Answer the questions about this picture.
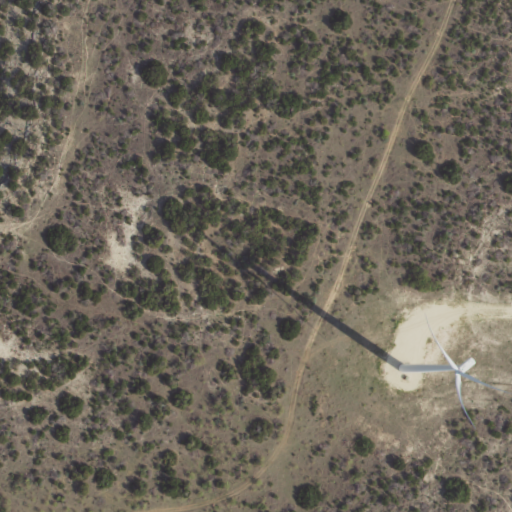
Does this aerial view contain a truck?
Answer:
No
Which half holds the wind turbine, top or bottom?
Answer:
bottom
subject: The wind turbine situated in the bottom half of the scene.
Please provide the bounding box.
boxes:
[396,312,512,429]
